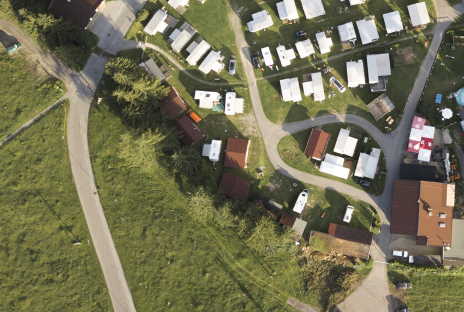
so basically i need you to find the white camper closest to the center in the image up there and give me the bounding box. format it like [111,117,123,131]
[202,139,222,162]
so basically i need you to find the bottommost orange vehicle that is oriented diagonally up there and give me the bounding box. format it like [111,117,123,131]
[186,108,202,124]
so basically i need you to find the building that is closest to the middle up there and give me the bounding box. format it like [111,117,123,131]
[224,137,251,169]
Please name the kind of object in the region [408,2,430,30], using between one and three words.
building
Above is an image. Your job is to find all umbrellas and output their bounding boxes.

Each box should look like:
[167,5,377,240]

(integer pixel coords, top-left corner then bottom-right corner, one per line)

[410,128,422,141]
[420,137,433,150]
[412,116,425,130]
[418,148,431,162]
[422,125,435,139]
[442,108,453,119]
[408,139,421,153]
